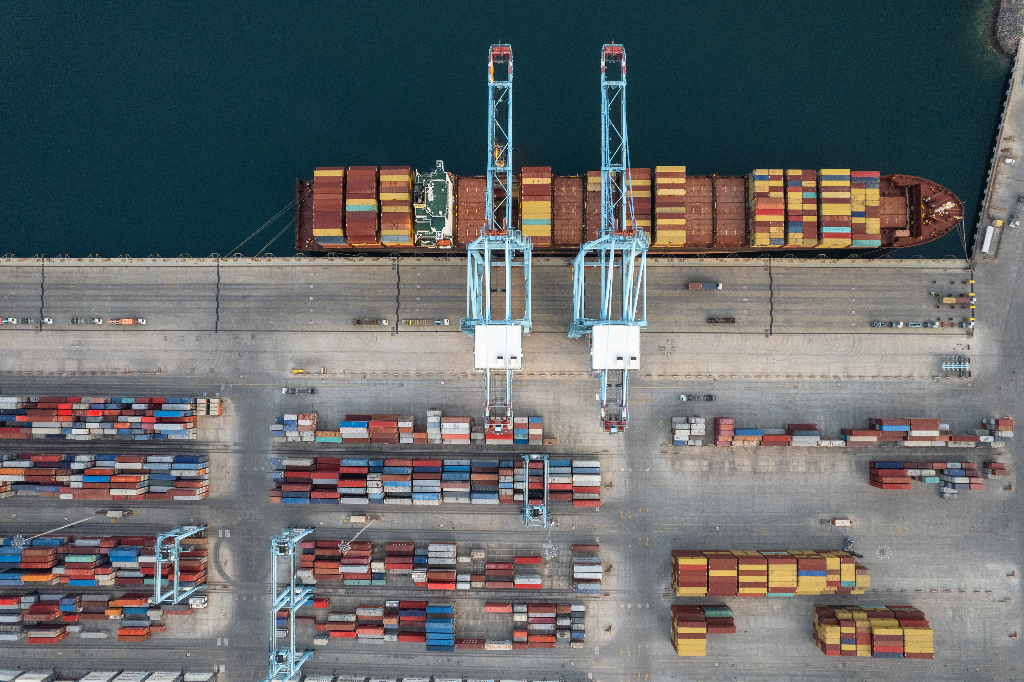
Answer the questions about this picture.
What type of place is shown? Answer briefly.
port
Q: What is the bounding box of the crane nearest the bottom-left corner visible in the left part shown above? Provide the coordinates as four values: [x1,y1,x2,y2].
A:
[150,524,208,604]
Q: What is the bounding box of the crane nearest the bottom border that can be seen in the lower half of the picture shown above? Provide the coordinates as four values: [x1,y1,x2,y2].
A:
[264,594,315,677]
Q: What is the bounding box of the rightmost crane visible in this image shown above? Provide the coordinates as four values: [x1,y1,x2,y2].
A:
[565,37,649,438]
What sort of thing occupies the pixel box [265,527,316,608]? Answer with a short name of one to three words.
crane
